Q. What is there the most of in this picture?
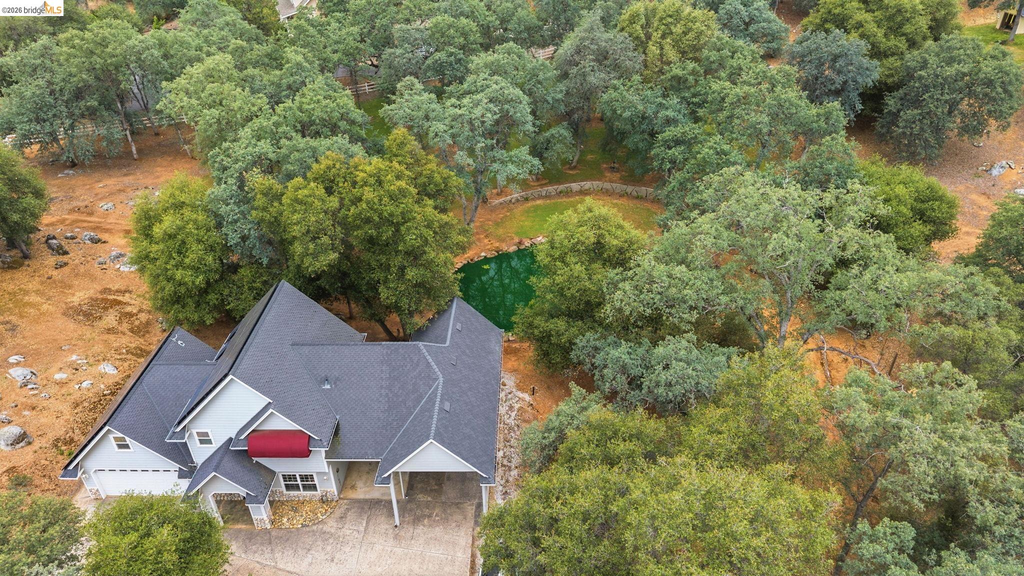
trees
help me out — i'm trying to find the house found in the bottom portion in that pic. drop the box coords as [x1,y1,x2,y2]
[57,279,506,529]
